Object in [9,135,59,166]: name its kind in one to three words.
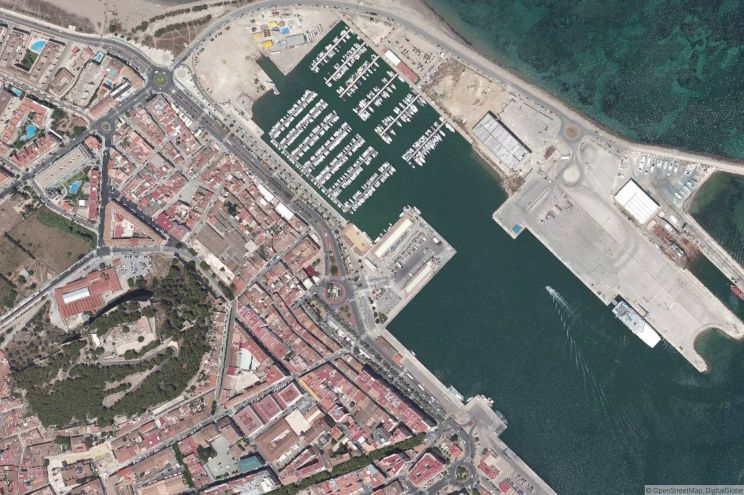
building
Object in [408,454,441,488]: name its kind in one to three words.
building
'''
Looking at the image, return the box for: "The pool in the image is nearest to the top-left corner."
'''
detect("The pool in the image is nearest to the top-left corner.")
[30,39,47,52]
